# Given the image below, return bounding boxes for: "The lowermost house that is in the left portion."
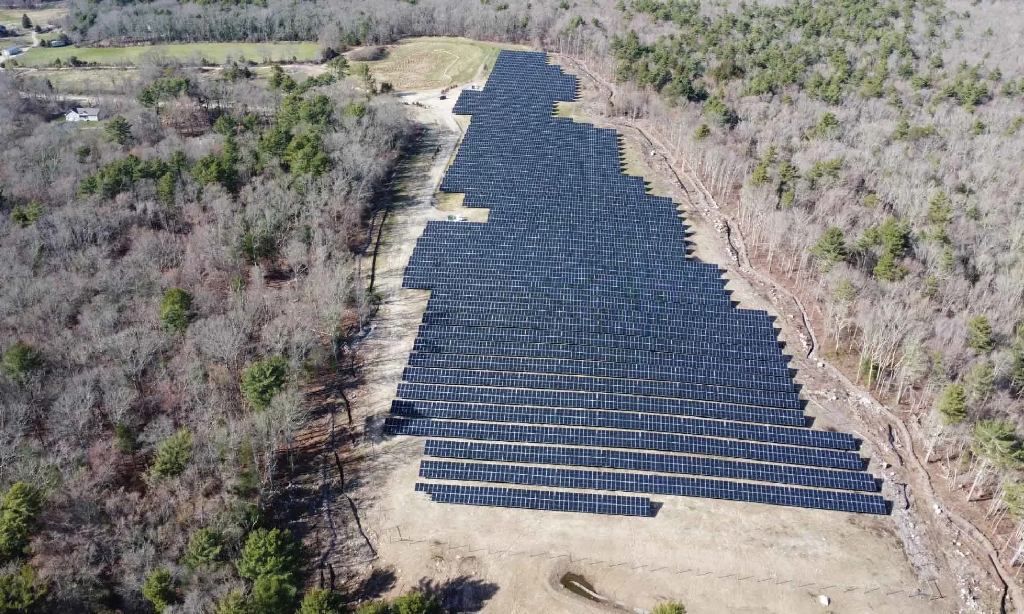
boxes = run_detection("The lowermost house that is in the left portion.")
[62,106,103,123]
